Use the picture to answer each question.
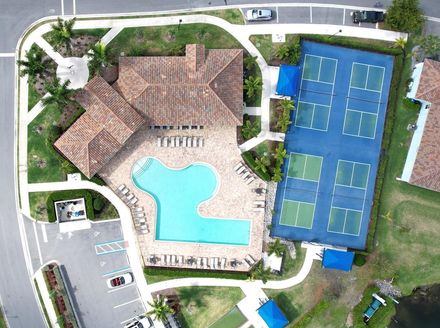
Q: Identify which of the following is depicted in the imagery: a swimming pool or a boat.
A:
swimming pool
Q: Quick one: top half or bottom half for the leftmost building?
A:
top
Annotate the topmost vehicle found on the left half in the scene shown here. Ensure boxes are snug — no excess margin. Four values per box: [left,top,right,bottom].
[107,272,134,287]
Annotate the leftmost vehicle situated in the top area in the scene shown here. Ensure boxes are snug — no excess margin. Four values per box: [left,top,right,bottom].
[246,9,272,22]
